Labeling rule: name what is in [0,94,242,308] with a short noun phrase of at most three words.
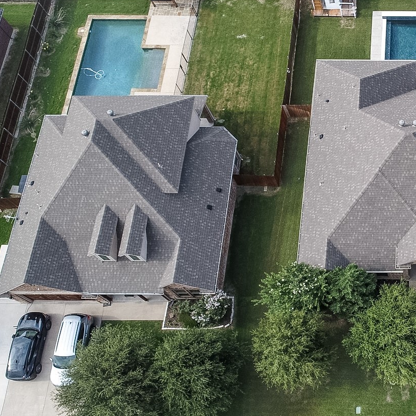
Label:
house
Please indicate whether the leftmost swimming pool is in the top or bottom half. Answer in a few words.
top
